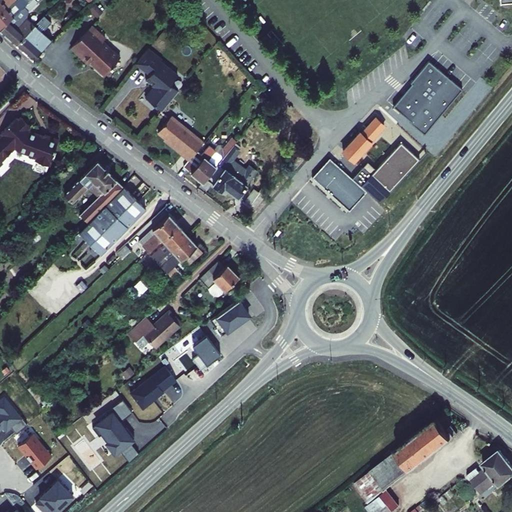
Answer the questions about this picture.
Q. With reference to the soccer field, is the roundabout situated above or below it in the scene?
below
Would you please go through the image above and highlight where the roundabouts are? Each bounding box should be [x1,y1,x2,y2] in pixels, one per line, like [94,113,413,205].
[290,266,380,356]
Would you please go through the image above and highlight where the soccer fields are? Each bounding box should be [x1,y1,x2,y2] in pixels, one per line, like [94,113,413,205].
[256,0,407,74]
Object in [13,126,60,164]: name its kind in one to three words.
house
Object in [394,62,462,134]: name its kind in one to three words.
building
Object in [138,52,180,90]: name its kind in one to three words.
house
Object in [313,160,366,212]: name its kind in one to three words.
building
